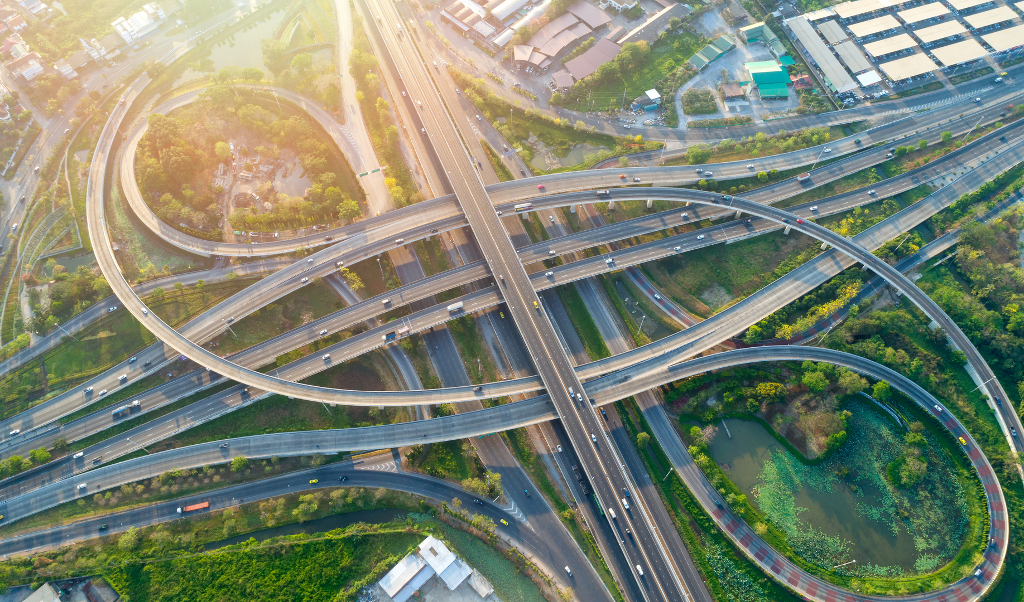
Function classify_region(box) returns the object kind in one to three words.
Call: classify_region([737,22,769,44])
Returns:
building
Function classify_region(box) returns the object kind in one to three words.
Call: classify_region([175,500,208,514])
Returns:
vehicle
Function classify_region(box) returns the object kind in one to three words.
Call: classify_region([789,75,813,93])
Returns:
house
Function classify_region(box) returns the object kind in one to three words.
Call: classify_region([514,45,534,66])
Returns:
building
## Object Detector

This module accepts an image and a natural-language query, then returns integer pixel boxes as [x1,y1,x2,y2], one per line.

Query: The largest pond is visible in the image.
[711,393,970,577]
